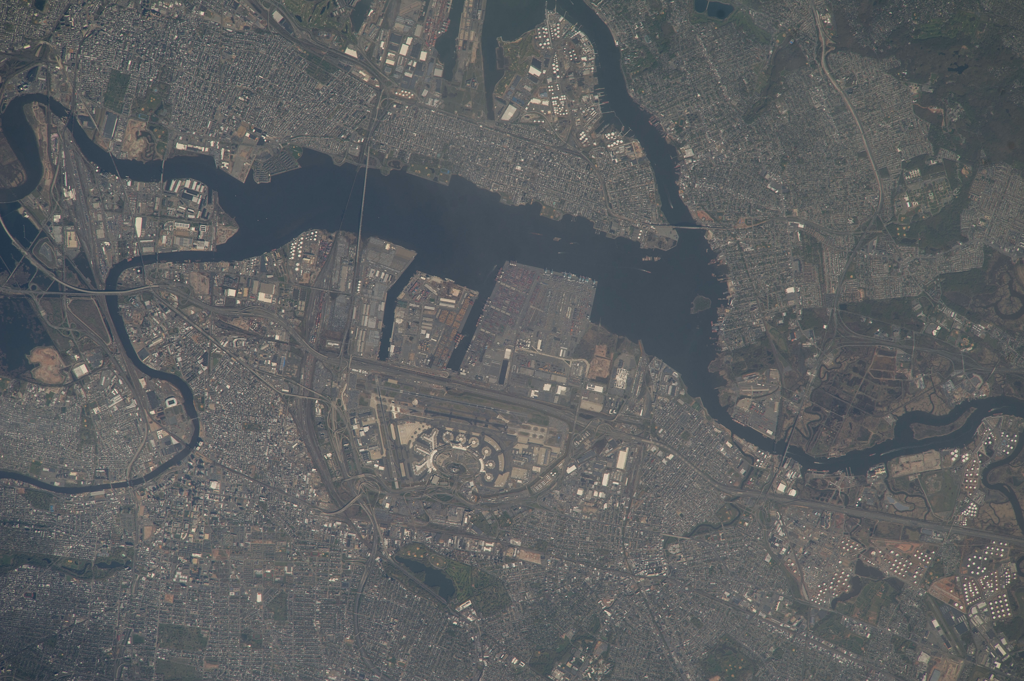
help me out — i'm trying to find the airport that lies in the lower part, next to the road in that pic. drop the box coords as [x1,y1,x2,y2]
[349,372,569,493]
